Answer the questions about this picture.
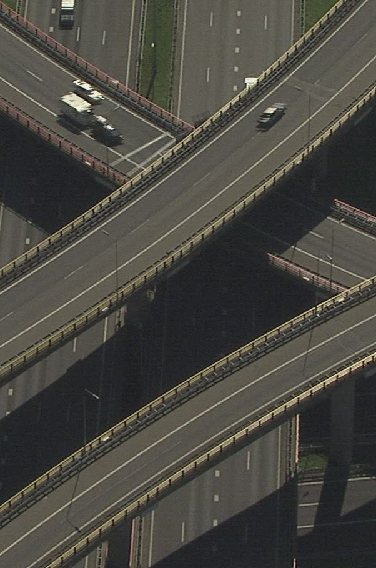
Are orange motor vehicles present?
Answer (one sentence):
No, the scene contains no orange motor vehicle.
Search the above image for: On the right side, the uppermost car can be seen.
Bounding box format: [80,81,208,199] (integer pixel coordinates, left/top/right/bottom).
[241,68,259,89]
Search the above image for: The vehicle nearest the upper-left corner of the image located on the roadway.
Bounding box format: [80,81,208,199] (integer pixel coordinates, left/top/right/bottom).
[57,0,76,26]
